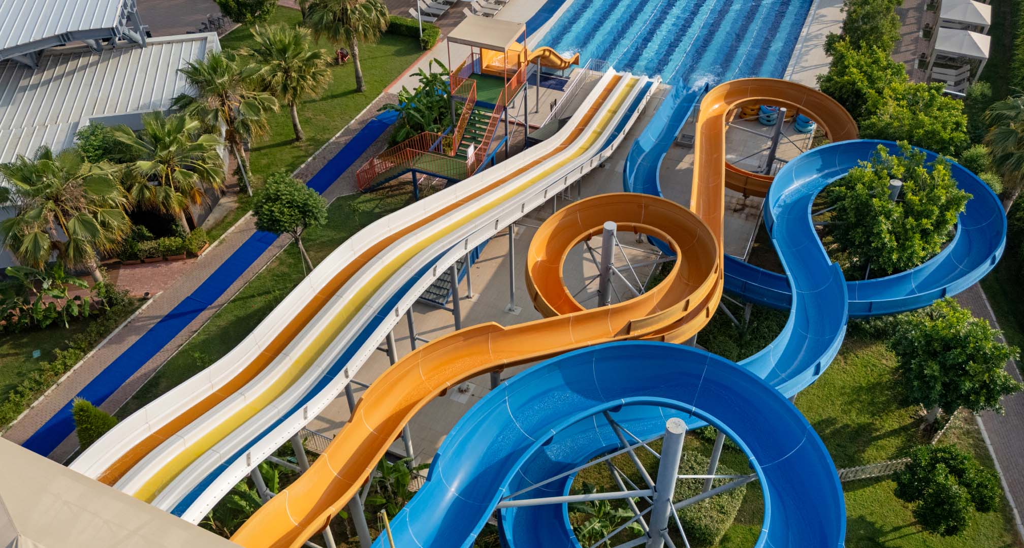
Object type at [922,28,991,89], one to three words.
gazebo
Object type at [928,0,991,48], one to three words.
gazebo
